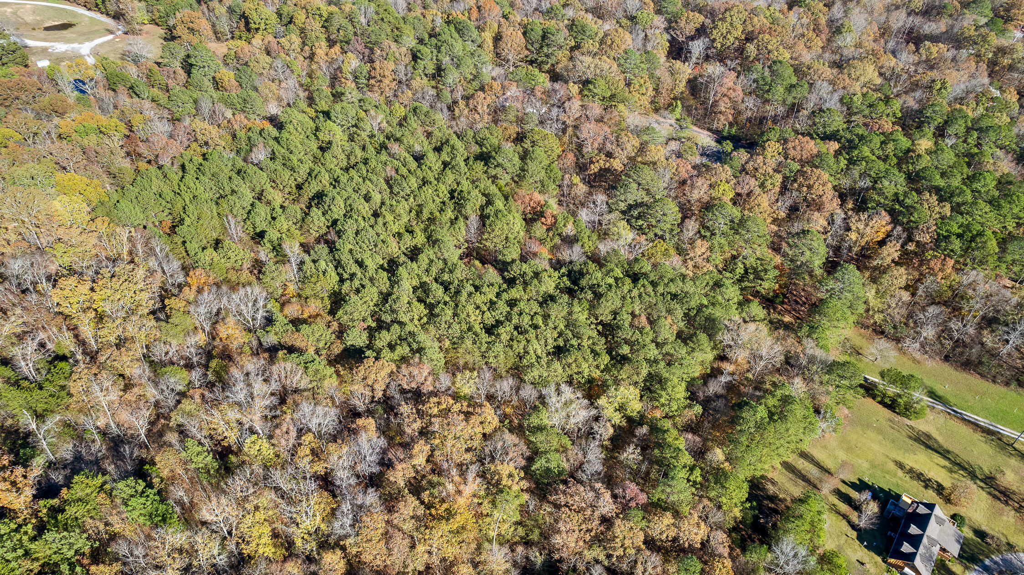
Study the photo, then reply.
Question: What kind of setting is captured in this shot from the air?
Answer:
forest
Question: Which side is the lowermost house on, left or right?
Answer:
right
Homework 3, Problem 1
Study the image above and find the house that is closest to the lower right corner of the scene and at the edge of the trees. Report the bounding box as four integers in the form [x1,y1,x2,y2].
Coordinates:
[880,493,966,575]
